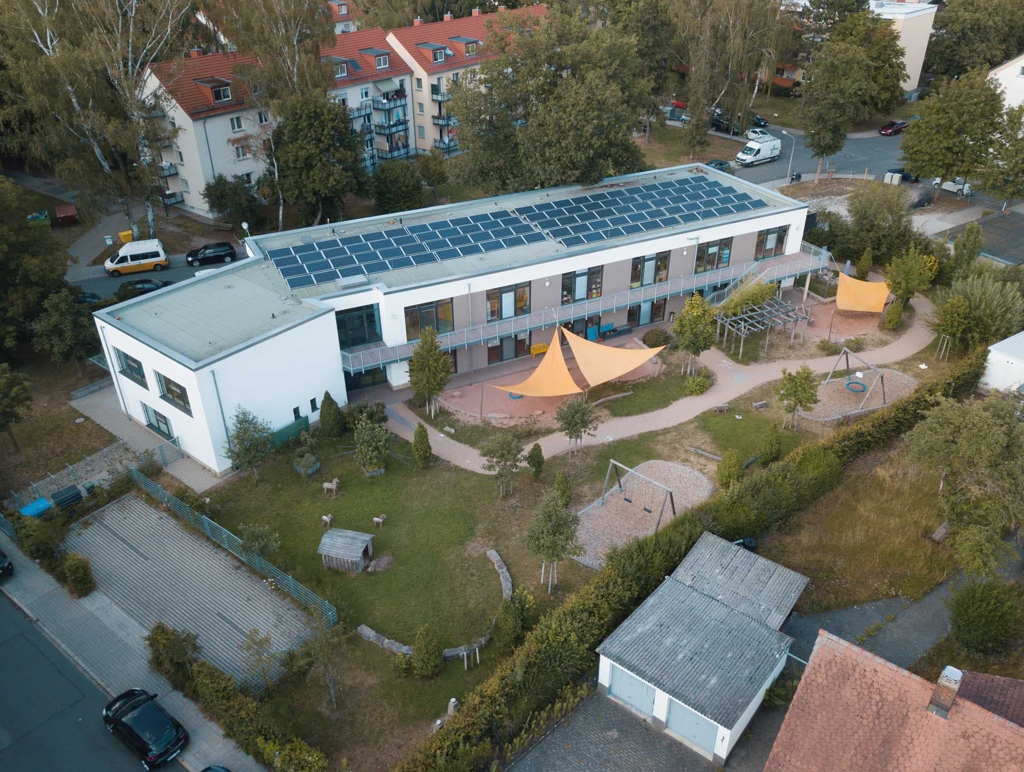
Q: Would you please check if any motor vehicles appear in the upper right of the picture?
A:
Yes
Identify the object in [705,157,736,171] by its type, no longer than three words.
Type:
car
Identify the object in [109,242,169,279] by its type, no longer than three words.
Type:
van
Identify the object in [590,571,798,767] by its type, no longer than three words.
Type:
building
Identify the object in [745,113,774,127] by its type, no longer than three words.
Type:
car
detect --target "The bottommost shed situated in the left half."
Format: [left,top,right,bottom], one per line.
[317,536,372,572]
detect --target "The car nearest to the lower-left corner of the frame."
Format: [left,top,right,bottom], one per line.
[106,690,189,772]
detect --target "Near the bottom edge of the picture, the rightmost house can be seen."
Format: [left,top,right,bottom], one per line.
[759,628,1024,772]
